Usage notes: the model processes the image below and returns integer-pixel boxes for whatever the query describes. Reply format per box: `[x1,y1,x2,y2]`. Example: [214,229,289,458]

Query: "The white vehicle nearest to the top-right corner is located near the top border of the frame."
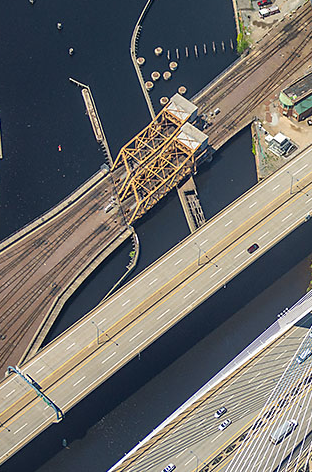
[260,4,285,18]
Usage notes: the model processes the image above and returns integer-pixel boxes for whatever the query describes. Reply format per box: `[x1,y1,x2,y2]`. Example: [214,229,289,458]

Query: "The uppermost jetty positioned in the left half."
[81,88,103,142]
